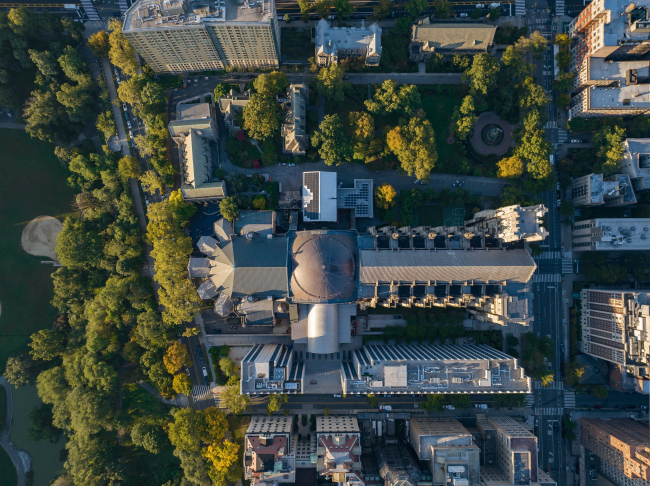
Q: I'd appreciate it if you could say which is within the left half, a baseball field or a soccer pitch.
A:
baseball field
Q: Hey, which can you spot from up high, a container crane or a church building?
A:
church building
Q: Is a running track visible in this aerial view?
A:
No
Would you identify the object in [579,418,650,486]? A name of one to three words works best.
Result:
building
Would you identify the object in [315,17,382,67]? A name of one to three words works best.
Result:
house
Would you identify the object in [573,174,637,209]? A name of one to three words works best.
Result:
building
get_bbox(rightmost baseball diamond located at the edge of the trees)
[22,216,60,258]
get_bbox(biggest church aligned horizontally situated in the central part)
[188,206,545,352]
